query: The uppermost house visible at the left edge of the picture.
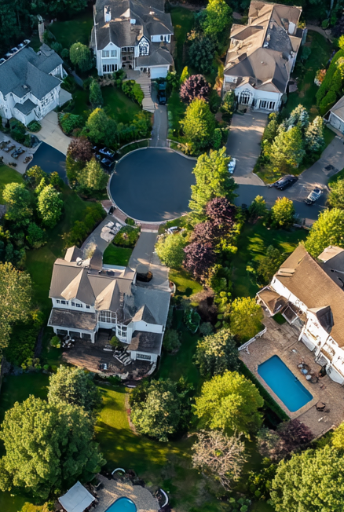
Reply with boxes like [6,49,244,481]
[0,38,65,128]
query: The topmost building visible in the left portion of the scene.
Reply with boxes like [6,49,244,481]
[94,0,175,78]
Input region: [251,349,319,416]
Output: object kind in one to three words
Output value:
swimming pool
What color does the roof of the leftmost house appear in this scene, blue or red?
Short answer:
blue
